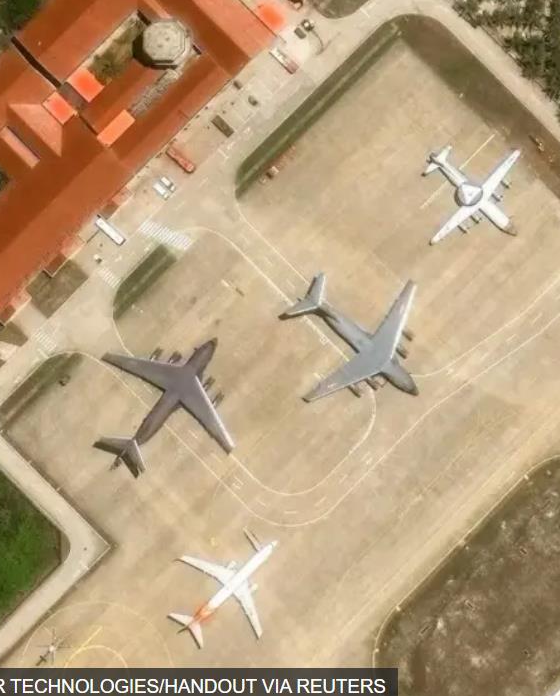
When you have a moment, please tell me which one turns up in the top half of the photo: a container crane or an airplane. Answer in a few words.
airplane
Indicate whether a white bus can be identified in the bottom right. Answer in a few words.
No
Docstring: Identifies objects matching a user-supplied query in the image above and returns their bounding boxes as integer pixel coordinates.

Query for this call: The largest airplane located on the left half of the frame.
[95,338,229,479]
